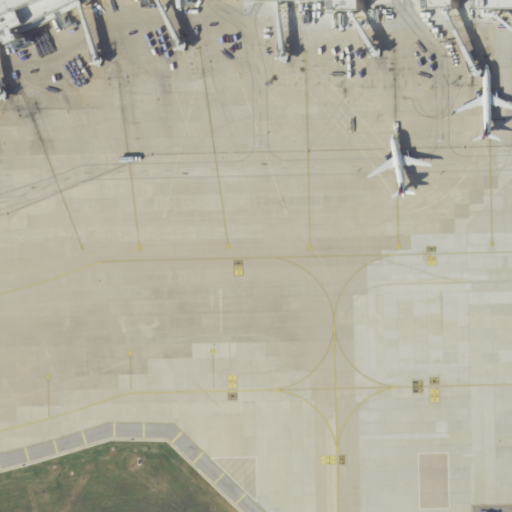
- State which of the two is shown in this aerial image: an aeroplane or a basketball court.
aeroplane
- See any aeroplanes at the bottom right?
No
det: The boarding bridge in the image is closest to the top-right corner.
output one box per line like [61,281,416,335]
[480,10,512,33]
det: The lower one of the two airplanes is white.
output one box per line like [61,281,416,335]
[368,134,432,198]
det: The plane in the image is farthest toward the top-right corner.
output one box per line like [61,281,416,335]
[452,65,512,141]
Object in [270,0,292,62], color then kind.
white jet bridge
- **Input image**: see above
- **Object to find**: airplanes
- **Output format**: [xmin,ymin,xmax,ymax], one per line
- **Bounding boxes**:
[452,65,512,141]
[368,134,432,198]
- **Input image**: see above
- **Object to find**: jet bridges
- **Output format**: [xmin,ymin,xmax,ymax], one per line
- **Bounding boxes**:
[441,6,484,76]
[270,0,292,62]
[77,0,106,66]
[480,10,512,33]
[347,8,384,56]
[156,0,190,51]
